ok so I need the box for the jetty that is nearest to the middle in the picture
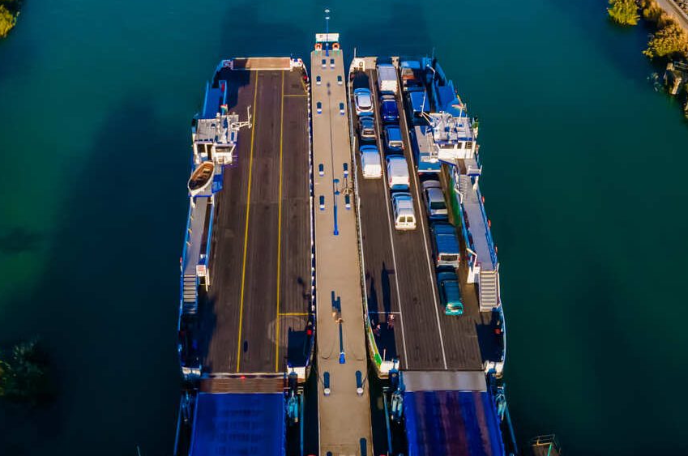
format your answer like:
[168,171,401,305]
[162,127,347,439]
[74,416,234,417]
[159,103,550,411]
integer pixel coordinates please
[311,51,374,456]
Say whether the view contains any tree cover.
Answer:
No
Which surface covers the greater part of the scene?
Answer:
water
